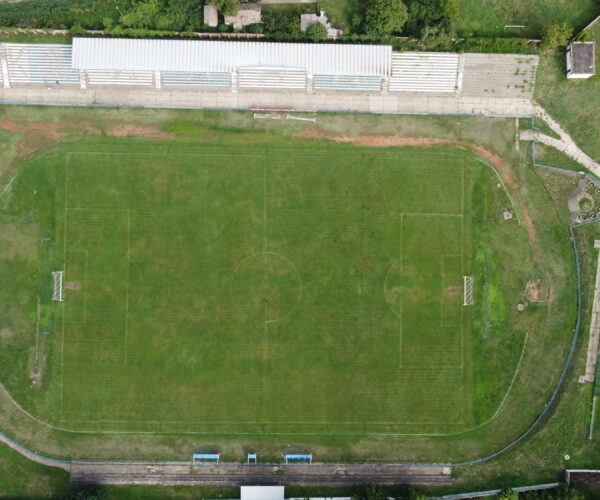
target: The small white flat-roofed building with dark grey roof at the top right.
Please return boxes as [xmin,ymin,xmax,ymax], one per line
[567,41,596,78]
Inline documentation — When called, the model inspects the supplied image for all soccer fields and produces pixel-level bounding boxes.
[57,148,466,428]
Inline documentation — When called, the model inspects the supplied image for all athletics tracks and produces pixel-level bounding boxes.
[0,117,570,461]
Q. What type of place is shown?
sports ground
